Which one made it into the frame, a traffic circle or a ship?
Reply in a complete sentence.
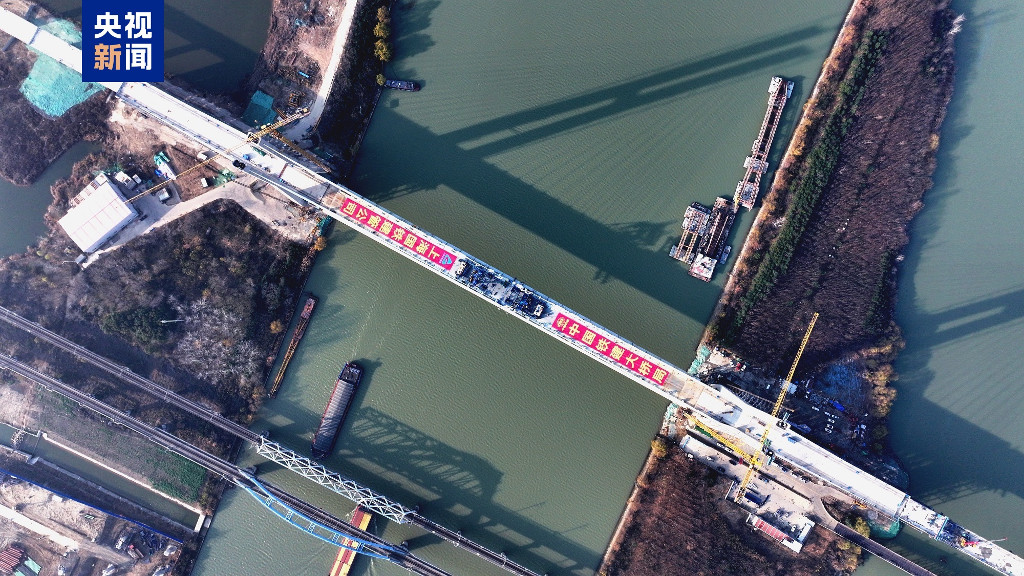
Looking from above, you can make out a ship.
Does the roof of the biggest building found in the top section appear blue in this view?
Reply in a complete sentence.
No, the roof of the biggest building found in the top section is actually white.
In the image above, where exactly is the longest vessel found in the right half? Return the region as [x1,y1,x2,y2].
[692,198,735,280]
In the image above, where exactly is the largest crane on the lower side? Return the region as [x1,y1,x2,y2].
[680,313,818,503]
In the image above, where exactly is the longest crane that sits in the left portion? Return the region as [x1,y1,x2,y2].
[124,110,337,204]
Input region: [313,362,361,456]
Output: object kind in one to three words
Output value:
ship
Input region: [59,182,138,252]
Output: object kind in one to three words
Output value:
building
